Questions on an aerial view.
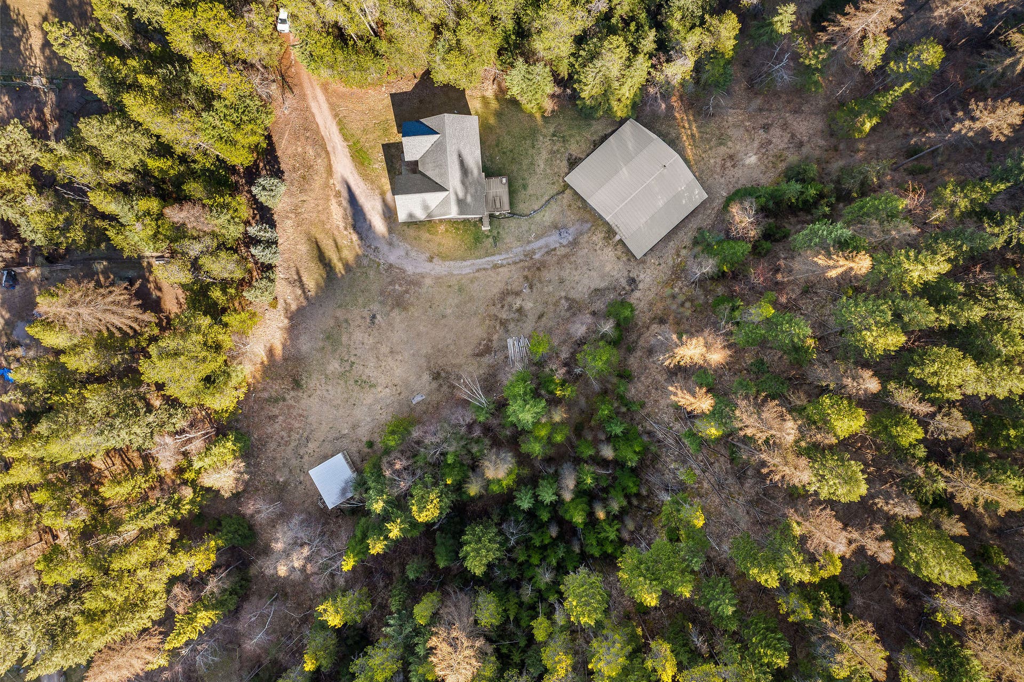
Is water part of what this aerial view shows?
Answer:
No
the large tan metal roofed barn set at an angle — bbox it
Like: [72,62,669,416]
[565,117,706,260]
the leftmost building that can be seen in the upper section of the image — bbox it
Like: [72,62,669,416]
[394,113,512,229]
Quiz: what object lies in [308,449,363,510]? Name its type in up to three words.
shed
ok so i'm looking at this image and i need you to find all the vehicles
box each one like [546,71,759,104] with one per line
[276,7,292,40]
[0,264,19,296]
